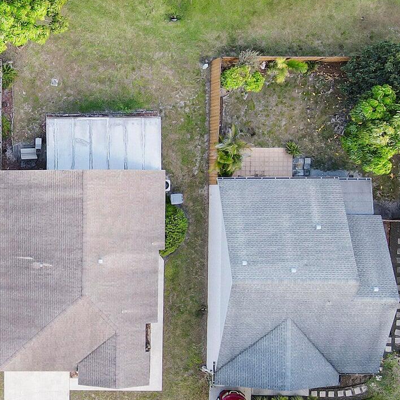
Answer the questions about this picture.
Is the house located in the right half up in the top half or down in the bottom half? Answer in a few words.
bottom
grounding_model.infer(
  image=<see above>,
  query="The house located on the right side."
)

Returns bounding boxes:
[208,176,399,391]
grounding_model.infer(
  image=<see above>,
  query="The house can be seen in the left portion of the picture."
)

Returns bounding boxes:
[0,116,166,389]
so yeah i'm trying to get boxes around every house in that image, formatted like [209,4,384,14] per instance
[208,176,399,391]
[0,116,166,389]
